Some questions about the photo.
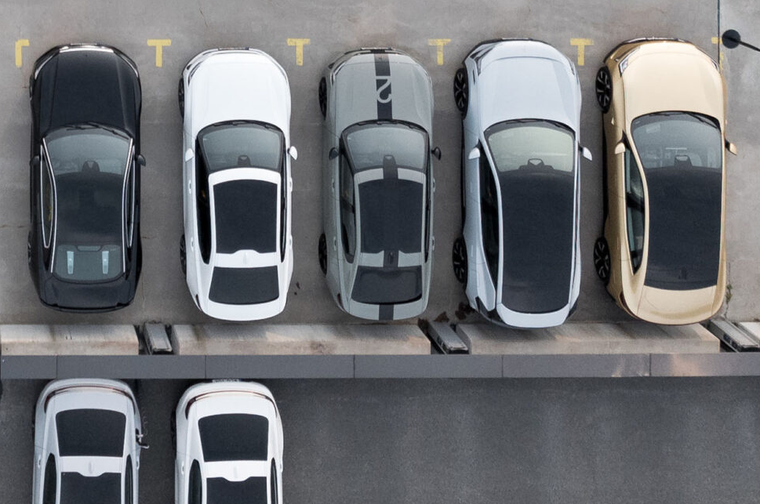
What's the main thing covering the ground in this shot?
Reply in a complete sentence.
The scene is dominated by paved ground.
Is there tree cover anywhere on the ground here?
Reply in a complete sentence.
No, there is no tree cover in the image.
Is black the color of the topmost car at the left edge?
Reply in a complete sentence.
Yes, the topmost car at the left edge is indeed black.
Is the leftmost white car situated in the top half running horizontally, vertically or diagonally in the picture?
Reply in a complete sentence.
From this overhead view, the leftmost white car situated in the top half appears to run vertically.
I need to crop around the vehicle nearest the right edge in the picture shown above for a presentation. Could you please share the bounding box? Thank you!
[594,36,736,324]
